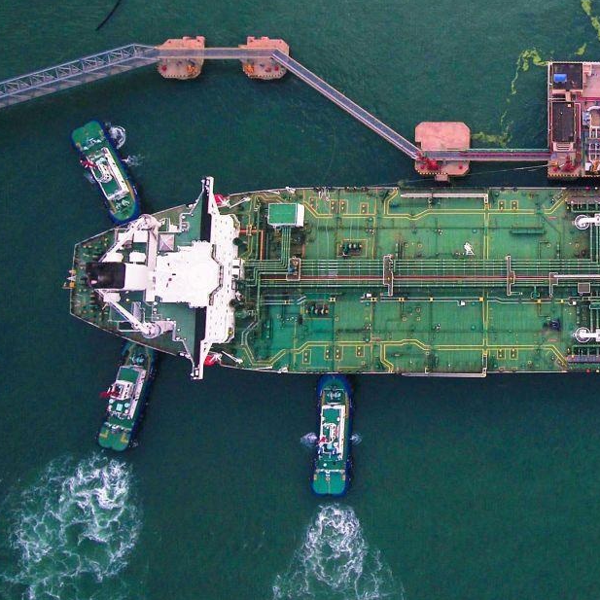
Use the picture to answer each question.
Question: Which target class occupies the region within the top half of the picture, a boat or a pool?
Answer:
boat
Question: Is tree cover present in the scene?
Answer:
No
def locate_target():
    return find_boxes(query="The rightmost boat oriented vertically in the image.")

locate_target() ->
[304,373,355,498]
